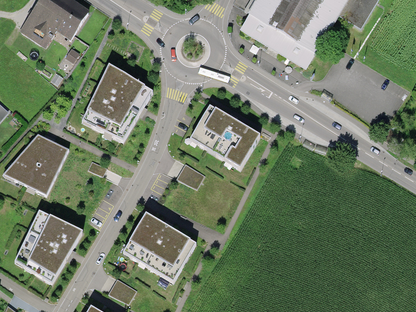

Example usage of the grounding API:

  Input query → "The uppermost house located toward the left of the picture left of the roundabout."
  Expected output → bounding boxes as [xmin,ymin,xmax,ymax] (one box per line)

[21,0,88,49]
